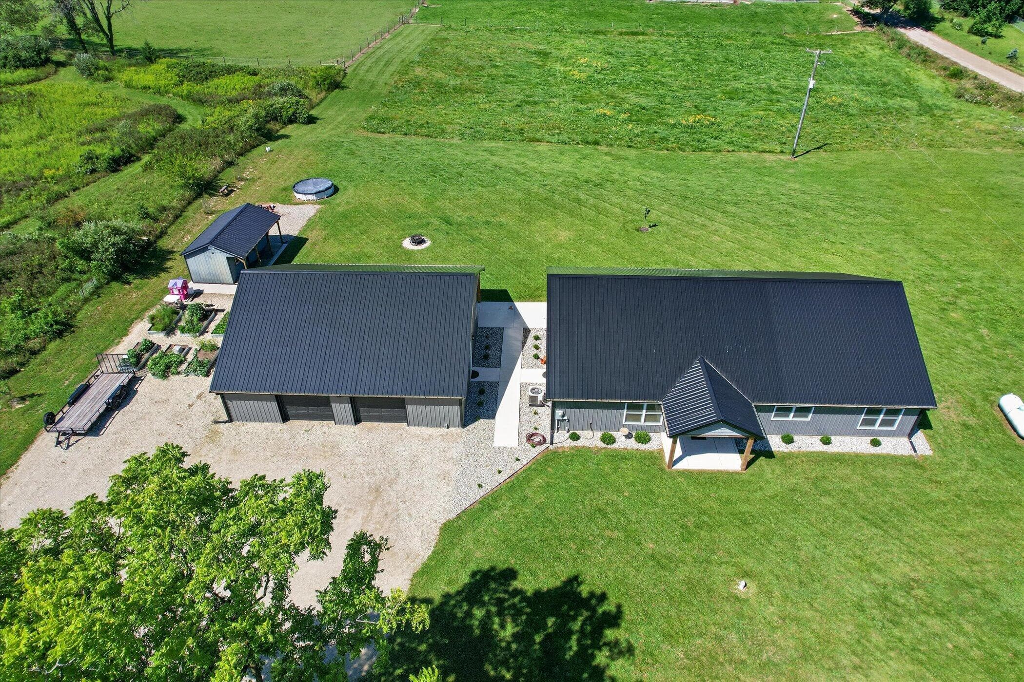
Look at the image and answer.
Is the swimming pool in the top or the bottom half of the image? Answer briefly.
top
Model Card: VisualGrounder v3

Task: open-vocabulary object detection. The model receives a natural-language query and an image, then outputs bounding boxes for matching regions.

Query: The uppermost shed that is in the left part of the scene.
[180,203,283,283]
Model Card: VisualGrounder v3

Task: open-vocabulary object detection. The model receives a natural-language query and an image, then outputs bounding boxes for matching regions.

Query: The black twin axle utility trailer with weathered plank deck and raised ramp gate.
[40,355,136,455]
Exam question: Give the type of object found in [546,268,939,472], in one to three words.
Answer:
house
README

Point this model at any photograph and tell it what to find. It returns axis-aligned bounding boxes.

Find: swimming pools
[291,170,338,198]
